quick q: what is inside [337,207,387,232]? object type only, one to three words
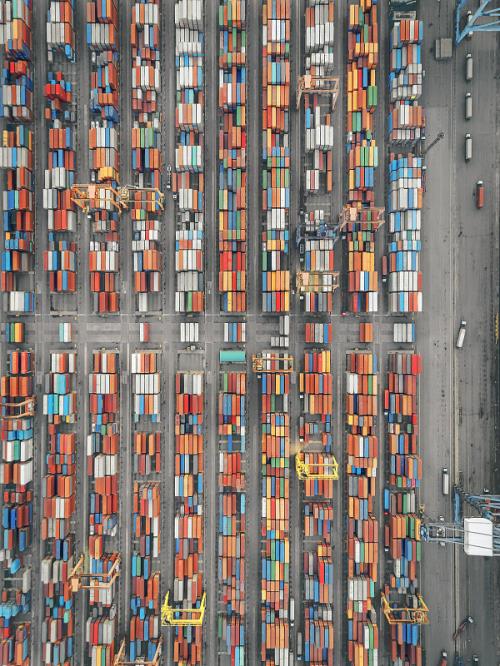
container crane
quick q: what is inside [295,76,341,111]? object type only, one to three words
container crane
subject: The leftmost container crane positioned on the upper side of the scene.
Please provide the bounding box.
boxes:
[71,185,123,210]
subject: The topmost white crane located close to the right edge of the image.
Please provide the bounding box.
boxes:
[419,485,500,557]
